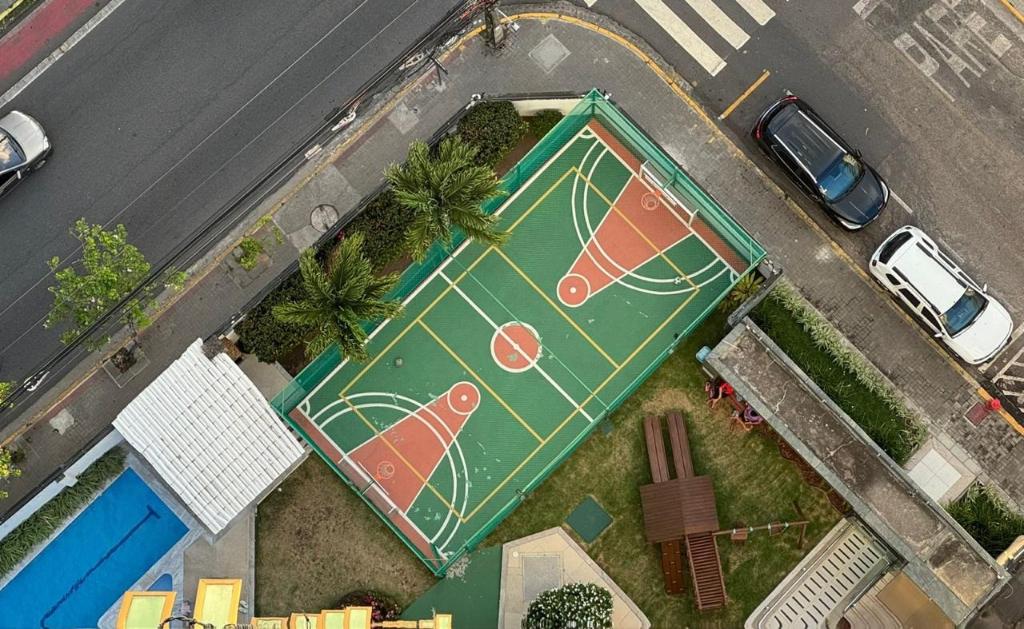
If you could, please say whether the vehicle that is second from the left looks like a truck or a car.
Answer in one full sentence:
What you see as the vehicle that is second from the left is a car.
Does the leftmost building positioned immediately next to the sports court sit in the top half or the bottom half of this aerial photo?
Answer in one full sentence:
Seen from above, the leftmost building positioned immediately next to the sports court lies in the bottom half of the view.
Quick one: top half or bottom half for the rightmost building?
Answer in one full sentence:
The bottom half of the photo is where the rightmost building is.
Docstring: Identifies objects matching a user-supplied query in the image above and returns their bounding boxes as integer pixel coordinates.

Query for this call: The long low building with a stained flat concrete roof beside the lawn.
[706,320,1015,629]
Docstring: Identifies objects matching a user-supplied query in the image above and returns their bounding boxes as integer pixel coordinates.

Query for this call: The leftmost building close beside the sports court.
[113,336,315,537]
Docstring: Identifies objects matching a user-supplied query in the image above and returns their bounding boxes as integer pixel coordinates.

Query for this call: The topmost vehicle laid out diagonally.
[753,93,893,235]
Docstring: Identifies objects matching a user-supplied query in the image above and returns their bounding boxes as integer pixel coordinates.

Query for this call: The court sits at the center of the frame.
[290,118,747,566]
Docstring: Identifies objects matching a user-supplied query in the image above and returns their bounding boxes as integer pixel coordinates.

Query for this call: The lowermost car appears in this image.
[869,220,1017,362]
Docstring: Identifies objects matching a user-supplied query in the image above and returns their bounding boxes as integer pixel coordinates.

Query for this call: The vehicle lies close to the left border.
[0,110,50,197]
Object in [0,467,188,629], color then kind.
blue swimming pool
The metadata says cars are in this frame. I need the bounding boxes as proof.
[0,110,50,197]
[753,93,893,235]
[869,220,1017,362]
